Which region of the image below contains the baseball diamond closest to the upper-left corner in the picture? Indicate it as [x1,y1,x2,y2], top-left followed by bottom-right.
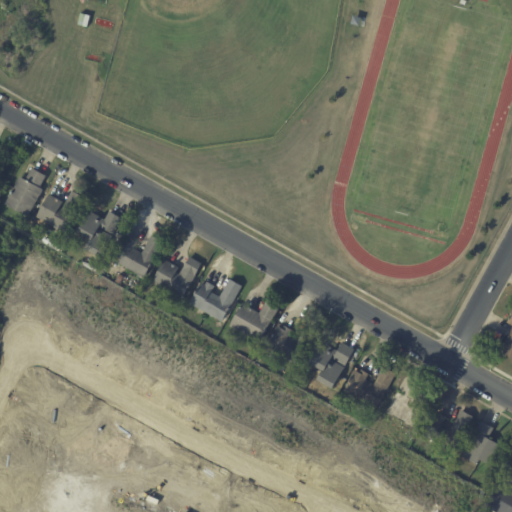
[101,0,338,146]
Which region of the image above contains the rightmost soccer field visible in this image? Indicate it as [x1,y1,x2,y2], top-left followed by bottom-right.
[356,0,507,226]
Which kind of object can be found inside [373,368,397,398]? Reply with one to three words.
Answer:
house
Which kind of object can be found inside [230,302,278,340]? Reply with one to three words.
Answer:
house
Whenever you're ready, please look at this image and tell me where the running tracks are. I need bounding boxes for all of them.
[332,0,512,278]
